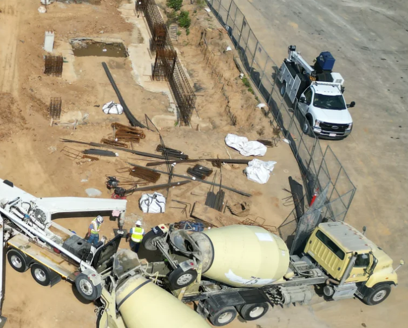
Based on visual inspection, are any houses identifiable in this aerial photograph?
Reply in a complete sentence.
No, no house is visible in the scene.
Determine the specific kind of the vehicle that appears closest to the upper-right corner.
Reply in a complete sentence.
In the photo, the vehicle that appears closest to the upper-right corner shows up as a truck.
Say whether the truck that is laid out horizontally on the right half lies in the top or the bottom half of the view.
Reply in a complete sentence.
You can find the truck that is laid out horizontally on the right half in the bottom half.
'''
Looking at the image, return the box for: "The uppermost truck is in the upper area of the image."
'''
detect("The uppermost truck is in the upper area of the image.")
[293,43,369,138]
